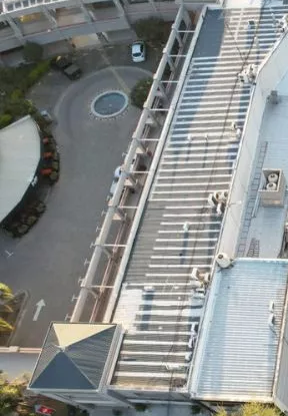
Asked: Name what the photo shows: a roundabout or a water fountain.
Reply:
water fountain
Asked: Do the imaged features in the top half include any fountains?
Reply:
Yes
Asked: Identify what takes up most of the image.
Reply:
buildings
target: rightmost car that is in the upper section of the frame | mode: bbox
[130,39,147,63]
